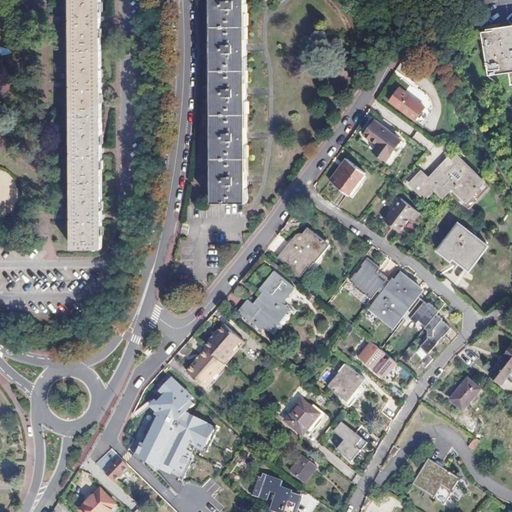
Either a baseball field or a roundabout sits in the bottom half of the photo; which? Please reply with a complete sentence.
There is a roundabout in the bottom half of the photo.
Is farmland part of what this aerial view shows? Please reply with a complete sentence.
No, the scene doesn't show any farmland.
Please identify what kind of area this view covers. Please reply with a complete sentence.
It's a residential area.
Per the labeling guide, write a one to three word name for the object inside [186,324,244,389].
house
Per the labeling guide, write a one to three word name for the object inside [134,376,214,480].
building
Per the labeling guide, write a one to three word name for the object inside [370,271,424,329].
building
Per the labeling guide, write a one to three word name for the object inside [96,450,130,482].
house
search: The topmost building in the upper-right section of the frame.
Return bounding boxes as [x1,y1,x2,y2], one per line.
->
[481,26,512,86]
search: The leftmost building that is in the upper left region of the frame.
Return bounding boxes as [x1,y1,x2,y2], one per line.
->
[66,0,106,252]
